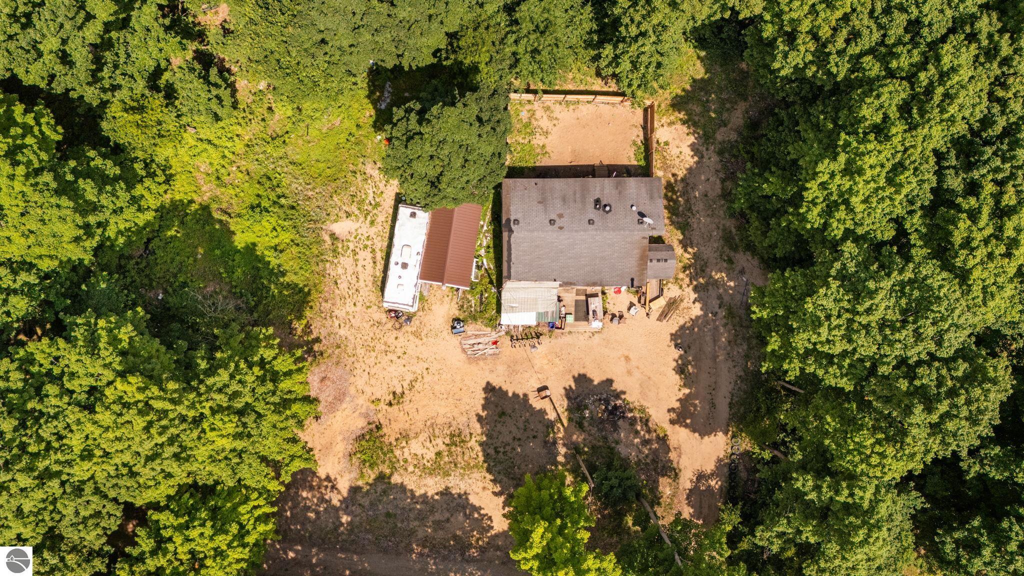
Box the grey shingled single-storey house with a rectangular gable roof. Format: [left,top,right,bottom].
[502,178,676,289]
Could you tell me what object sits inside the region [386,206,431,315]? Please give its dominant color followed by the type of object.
white trailer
